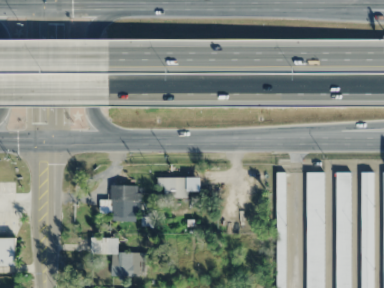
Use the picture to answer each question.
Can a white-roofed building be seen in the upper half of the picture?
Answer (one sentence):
No, there's no white-roofed building to be seen in the upper half of the picture.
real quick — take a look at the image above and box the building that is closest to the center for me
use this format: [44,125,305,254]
[158,177,201,198]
